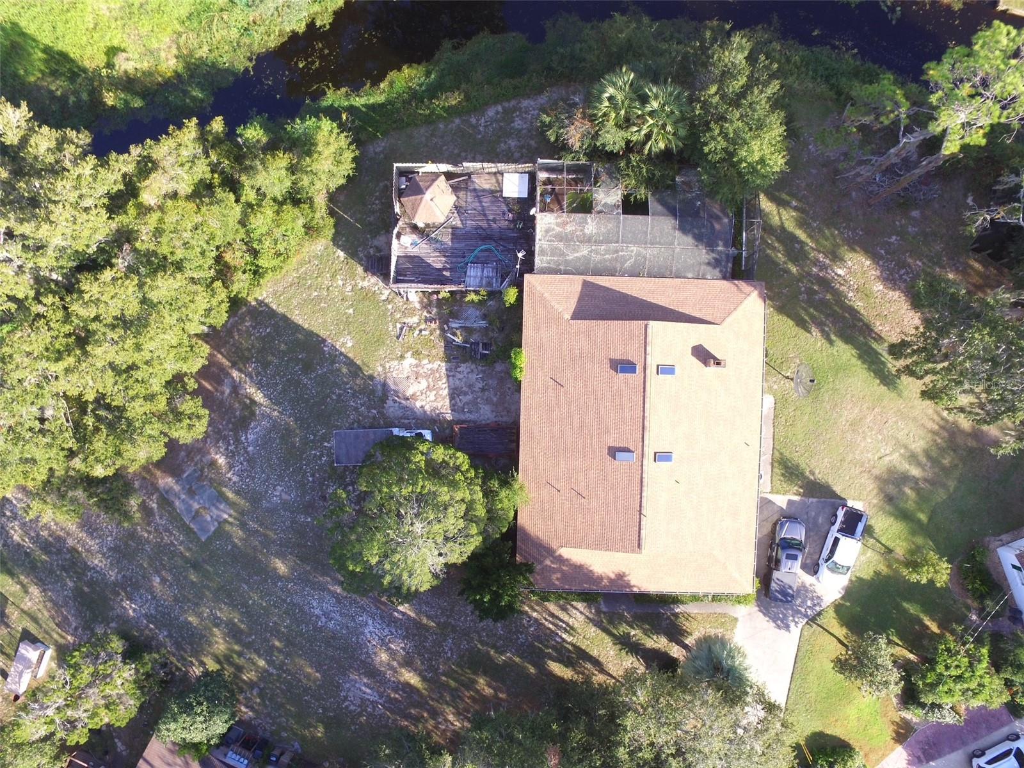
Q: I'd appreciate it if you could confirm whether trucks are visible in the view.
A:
Yes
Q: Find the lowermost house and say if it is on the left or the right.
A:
right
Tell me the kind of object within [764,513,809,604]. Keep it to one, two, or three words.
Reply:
truck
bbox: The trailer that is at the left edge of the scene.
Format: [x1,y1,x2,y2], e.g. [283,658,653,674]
[2,628,62,703]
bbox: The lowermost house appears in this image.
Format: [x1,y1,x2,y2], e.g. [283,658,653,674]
[987,522,1024,610]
